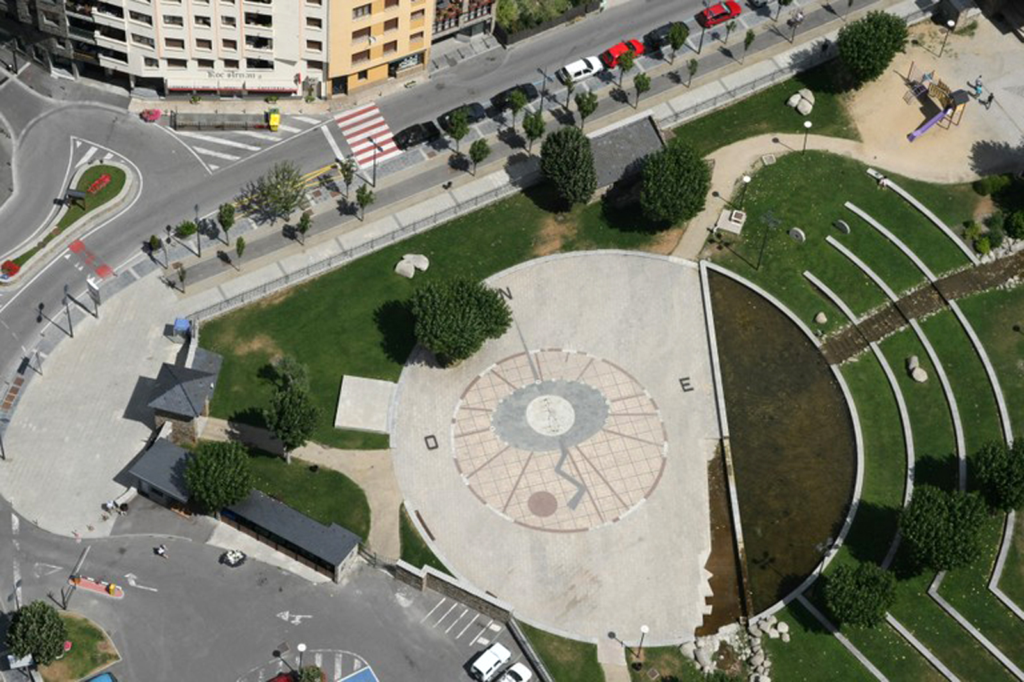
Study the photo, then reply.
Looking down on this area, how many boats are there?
none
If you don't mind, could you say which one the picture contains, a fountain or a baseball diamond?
fountain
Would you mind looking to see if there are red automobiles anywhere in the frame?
Yes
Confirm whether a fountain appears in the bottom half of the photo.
No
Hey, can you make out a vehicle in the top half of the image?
Yes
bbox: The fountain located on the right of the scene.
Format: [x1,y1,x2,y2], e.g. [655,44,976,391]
[715,208,747,233]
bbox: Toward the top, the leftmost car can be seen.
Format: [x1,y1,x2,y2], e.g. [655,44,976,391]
[391,118,442,150]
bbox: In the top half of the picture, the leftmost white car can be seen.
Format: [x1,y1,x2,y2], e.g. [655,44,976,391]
[555,52,605,83]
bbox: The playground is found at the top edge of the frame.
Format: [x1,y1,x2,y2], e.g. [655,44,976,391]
[672,11,1024,261]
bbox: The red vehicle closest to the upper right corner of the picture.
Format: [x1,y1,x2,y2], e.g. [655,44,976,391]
[695,0,745,27]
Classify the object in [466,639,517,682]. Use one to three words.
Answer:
car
